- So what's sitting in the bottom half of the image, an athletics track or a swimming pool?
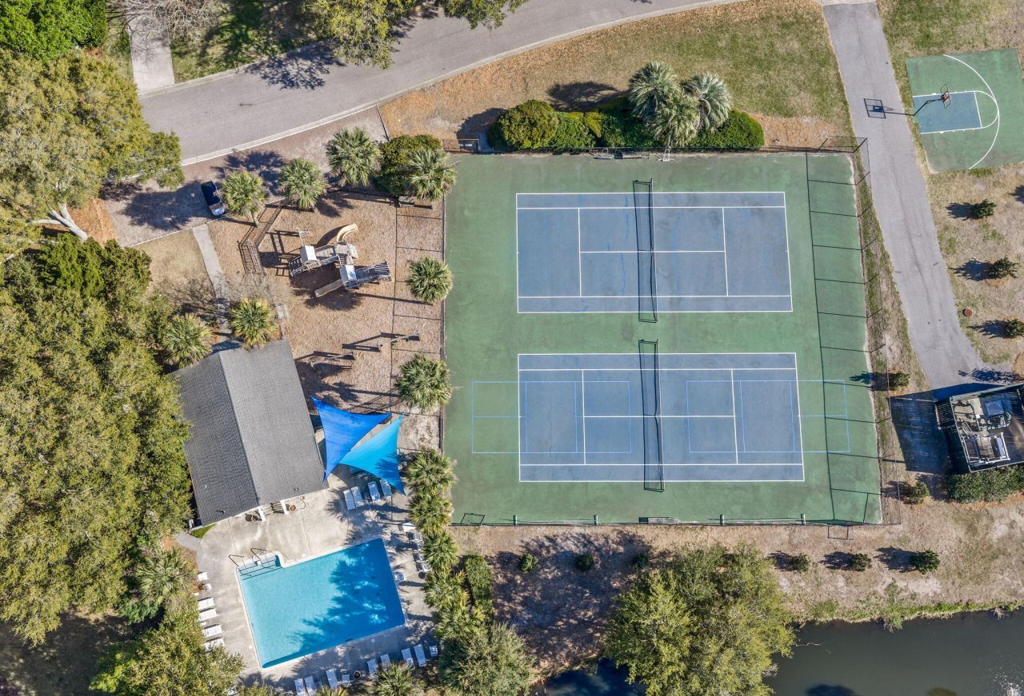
swimming pool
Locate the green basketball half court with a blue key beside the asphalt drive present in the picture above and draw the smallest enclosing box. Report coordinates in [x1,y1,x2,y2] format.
[906,48,1024,172]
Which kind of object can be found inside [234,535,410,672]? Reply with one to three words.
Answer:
swimming pool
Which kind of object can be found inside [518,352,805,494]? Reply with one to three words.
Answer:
tennis court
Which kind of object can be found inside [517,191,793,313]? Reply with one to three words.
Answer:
tennis court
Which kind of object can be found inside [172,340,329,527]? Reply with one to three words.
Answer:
building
